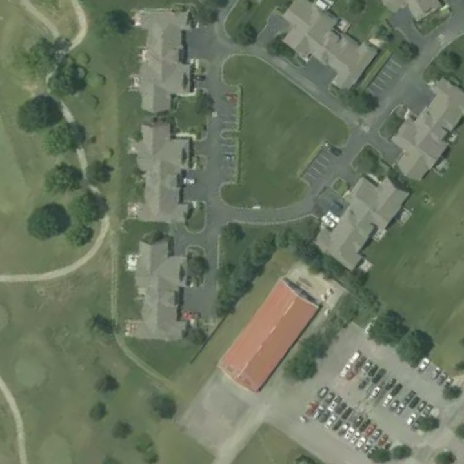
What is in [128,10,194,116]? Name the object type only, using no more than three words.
house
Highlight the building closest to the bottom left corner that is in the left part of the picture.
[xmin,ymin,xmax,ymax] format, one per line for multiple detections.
[123,237,190,344]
